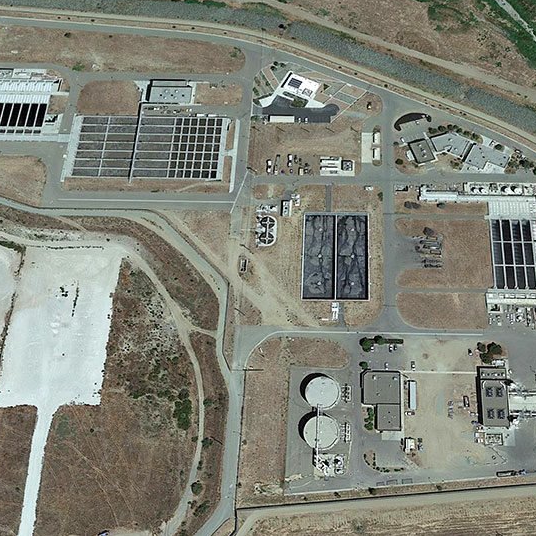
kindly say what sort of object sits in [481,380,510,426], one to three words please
building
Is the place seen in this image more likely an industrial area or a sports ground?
industrial area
